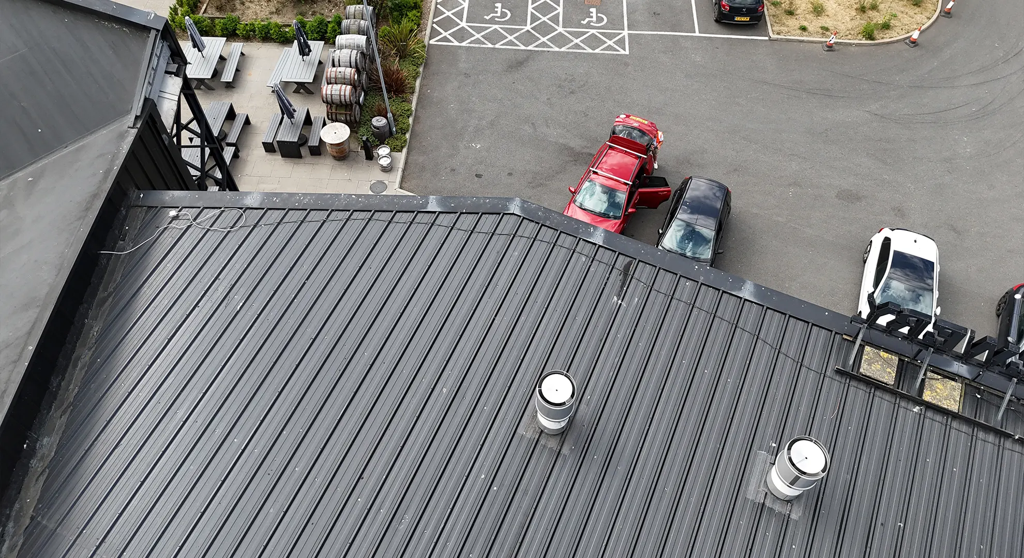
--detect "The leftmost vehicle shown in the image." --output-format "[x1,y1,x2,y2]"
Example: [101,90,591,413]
[566,111,668,239]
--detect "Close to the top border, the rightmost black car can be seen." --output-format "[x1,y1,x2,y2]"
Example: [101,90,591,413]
[715,0,768,26]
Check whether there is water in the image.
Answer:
No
